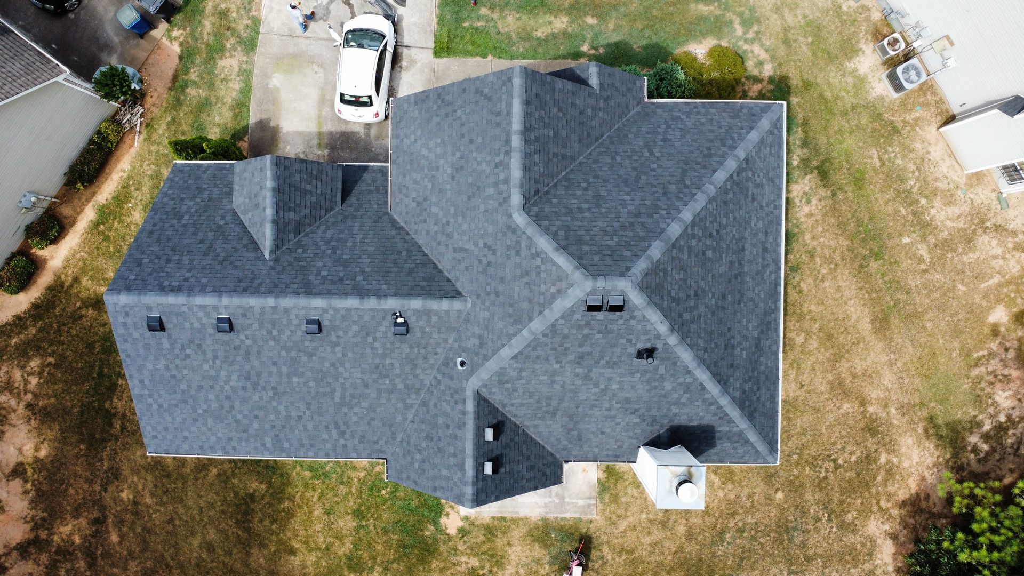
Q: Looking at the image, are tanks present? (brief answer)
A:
No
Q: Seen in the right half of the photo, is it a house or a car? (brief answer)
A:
house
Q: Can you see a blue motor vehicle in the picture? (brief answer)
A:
No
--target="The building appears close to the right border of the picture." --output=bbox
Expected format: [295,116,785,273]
[882,0,1024,201]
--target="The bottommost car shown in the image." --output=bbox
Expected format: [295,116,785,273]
[328,10,395,125]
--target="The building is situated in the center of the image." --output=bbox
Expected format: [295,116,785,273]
[103,62,787,509]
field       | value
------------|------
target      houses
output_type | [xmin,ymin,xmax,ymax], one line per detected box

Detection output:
[103,62,787,509]
[882,0,1024,201]
[0,16,118,264]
